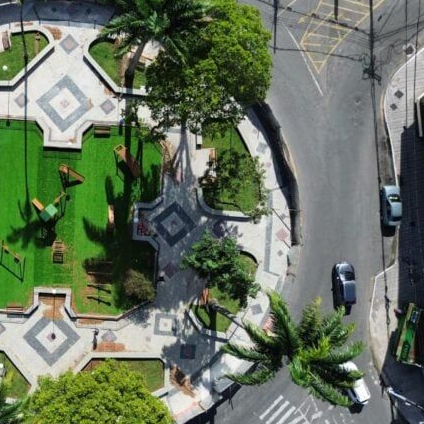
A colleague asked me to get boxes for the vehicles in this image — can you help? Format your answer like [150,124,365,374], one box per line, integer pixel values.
[337,359,370,405]
[377,185,403,227]
[334,265,360,309]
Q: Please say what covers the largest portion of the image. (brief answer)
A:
paved ground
